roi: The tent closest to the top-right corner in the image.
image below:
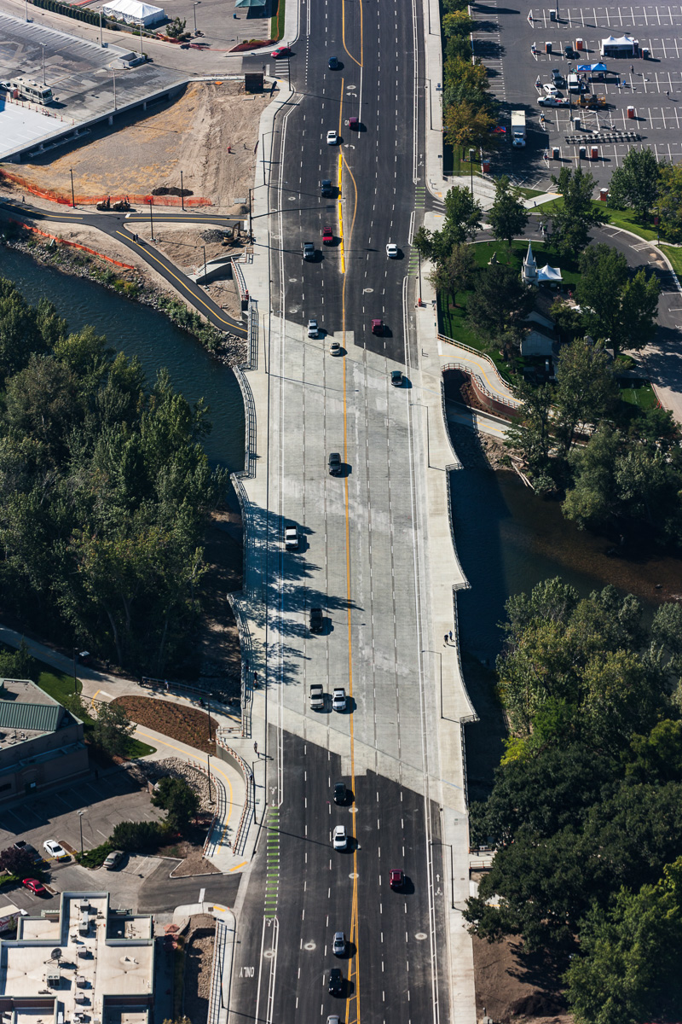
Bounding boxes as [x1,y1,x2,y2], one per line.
[601,37,640,62]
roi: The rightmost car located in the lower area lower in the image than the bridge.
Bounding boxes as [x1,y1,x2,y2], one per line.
[389,869,405,887]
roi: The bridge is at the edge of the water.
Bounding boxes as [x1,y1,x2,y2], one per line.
[226,289,482,810]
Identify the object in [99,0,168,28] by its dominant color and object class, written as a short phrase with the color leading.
white tent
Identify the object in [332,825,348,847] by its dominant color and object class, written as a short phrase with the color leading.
white car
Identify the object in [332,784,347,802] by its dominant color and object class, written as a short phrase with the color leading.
black car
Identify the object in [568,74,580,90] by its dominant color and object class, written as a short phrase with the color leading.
white vehicle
